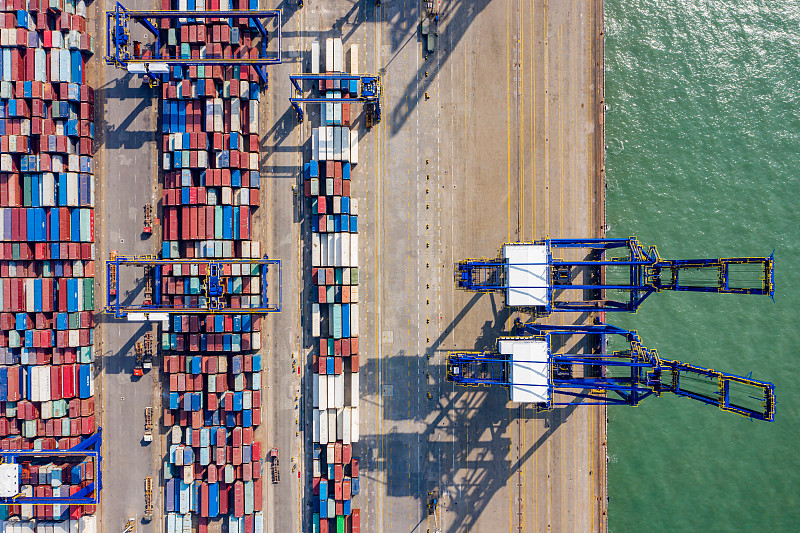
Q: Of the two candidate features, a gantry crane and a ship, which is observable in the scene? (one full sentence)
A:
Visible in the photo is a gantry crane.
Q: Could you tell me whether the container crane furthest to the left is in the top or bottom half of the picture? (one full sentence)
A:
The container crane furthest to the left sits in the bottom half of the picture.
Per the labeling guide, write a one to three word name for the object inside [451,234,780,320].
container crane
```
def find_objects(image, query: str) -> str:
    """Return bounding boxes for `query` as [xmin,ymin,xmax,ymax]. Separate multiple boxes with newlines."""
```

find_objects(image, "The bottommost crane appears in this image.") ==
[0,425,101,510]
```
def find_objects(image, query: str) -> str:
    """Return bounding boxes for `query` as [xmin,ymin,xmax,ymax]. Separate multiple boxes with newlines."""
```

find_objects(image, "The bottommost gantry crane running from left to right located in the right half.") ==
[440,311,780,429]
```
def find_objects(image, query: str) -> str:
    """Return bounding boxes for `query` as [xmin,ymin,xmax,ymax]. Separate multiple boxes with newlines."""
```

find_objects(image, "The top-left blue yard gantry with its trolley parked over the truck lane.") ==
[104,2,284,94]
